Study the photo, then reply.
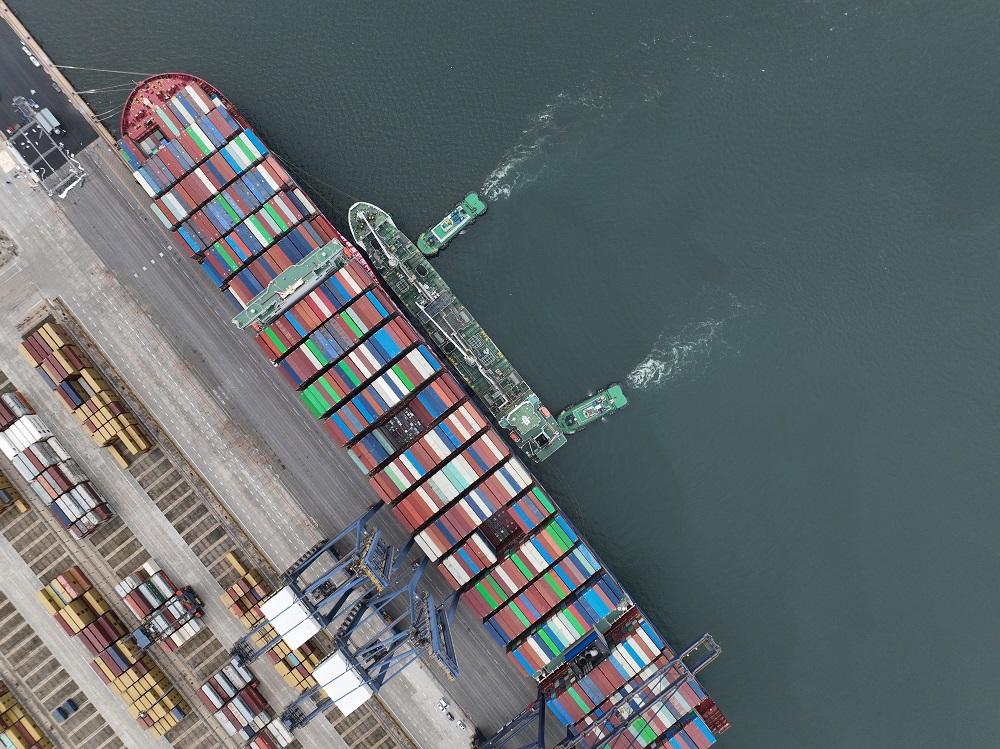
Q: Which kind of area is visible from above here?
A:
port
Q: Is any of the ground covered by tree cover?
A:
No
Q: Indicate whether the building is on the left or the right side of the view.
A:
left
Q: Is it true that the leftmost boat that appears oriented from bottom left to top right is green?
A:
Yes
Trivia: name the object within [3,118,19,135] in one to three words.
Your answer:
vehicle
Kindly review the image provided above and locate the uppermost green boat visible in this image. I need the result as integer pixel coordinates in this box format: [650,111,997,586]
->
[417,191,485,256]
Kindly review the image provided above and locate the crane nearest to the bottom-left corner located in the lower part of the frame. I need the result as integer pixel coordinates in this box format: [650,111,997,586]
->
[115,591,196,660]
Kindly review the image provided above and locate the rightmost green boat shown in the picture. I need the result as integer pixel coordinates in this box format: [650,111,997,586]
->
[555,381,630,434]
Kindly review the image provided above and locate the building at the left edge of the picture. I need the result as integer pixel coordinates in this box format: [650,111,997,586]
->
[34,106,65,137]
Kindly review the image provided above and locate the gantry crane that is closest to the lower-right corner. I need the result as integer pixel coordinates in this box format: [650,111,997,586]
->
[464,632,720,749]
